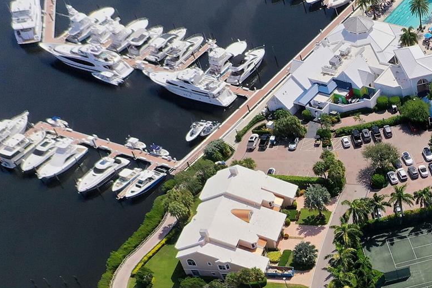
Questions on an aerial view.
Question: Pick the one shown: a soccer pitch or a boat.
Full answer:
I can see a boat in this picture.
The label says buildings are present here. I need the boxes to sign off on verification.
[176,164,301,285]
[278,11,413,114]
